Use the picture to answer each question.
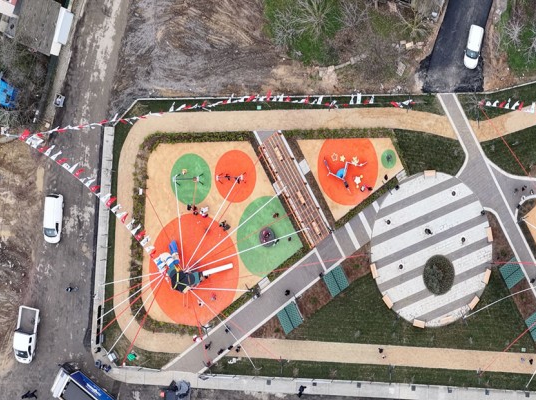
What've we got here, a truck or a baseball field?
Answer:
truck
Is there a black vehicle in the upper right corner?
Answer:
No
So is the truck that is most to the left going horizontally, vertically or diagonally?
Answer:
vertically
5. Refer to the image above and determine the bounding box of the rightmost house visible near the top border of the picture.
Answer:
[18,0,86,58]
